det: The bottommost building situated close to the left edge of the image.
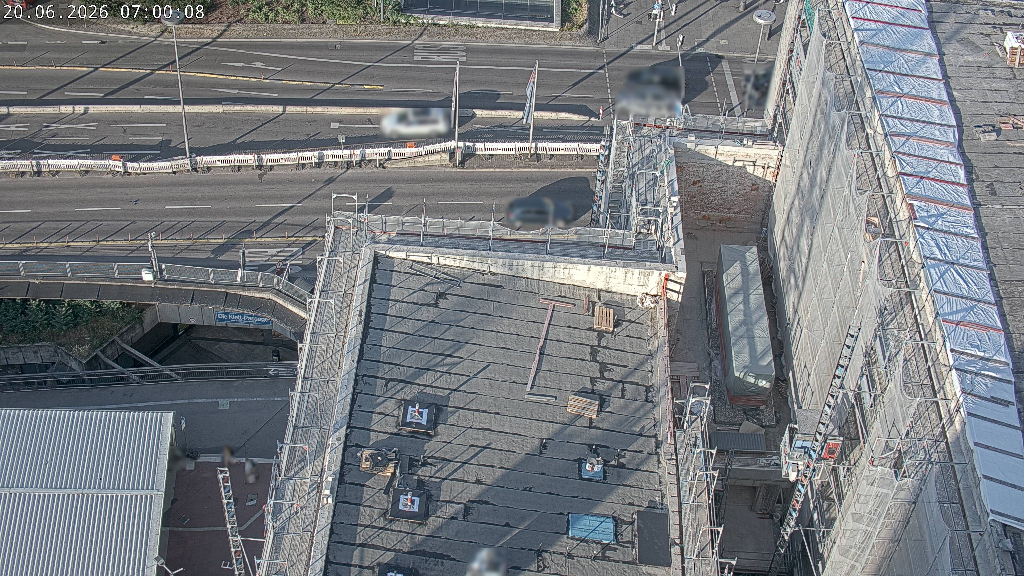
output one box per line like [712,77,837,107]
[0,406,178,576]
